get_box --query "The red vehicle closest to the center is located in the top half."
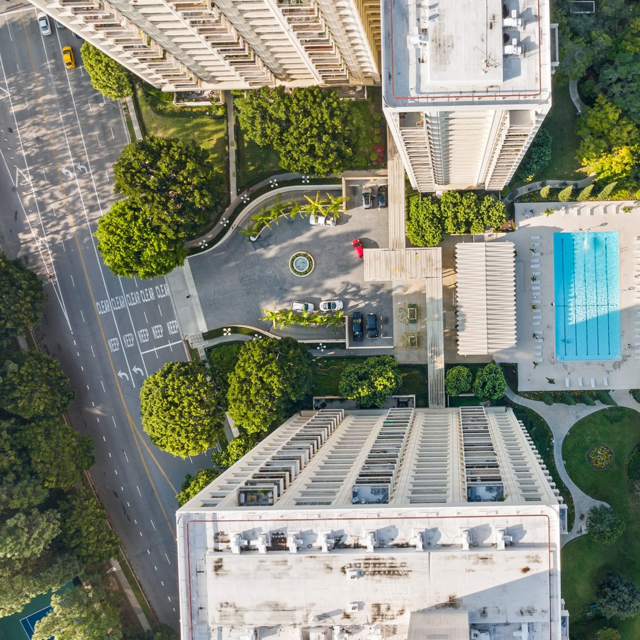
[350,238,364,261]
